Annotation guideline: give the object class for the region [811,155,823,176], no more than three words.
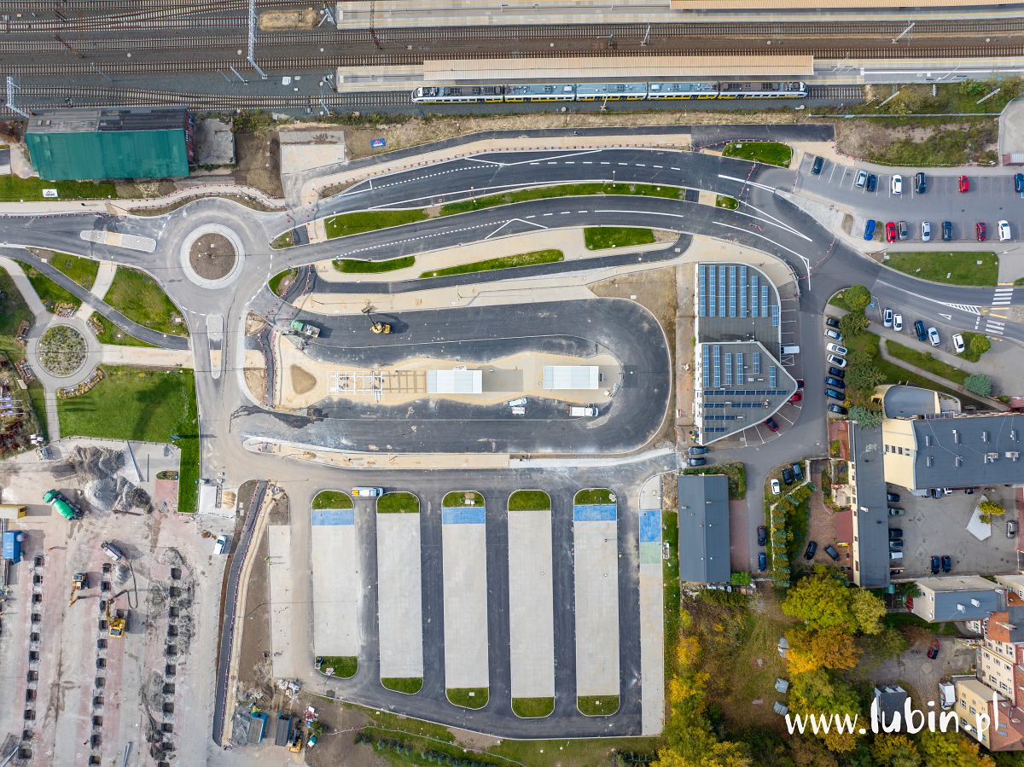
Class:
vehicle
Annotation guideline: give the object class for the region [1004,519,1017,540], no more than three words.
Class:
vehicle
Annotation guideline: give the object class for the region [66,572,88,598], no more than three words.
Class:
work vehicle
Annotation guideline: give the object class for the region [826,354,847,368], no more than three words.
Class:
car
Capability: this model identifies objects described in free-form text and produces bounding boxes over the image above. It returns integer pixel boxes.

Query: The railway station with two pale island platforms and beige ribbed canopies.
[337,0,1024,93]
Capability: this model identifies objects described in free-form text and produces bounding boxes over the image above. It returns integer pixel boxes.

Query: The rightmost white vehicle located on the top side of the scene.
[997,219,1012,242]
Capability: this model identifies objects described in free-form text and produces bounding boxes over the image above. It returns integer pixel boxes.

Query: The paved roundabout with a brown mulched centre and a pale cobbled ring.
[153,197,272,315]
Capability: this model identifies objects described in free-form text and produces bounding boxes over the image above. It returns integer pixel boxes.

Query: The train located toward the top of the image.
[412,81,811,103]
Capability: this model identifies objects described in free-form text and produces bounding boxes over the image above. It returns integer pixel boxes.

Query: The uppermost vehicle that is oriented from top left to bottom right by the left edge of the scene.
[41,487,81,519]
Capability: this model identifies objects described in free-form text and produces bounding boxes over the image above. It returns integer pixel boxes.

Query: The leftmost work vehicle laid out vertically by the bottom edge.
[291,728,304,754]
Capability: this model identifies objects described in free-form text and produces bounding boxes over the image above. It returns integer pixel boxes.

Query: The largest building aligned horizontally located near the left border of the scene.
[25,106,198,180]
